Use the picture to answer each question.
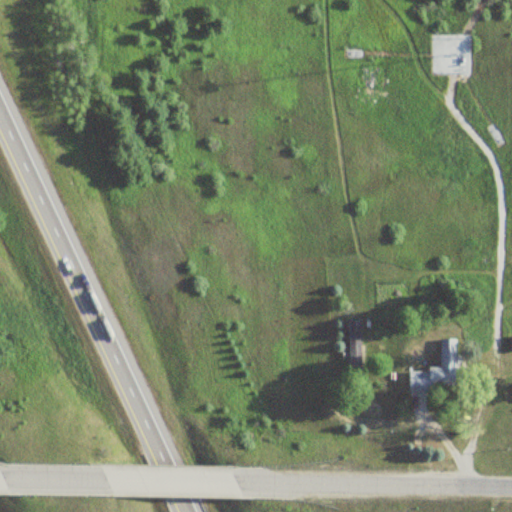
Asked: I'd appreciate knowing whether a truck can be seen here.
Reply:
Yes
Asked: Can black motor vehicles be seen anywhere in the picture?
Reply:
No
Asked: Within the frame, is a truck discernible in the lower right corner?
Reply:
No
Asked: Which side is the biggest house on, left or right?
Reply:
right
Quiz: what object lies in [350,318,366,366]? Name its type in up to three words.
barn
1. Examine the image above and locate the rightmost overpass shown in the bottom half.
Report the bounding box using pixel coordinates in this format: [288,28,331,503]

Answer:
[102,464,244,497]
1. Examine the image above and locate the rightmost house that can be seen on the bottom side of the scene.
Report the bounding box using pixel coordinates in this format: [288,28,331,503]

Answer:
[410,338,466,392]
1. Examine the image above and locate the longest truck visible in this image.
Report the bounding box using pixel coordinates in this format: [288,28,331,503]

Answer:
[78,272,114,340]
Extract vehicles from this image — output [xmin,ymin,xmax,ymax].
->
[62,256,72,271]
[78,272,114,340]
